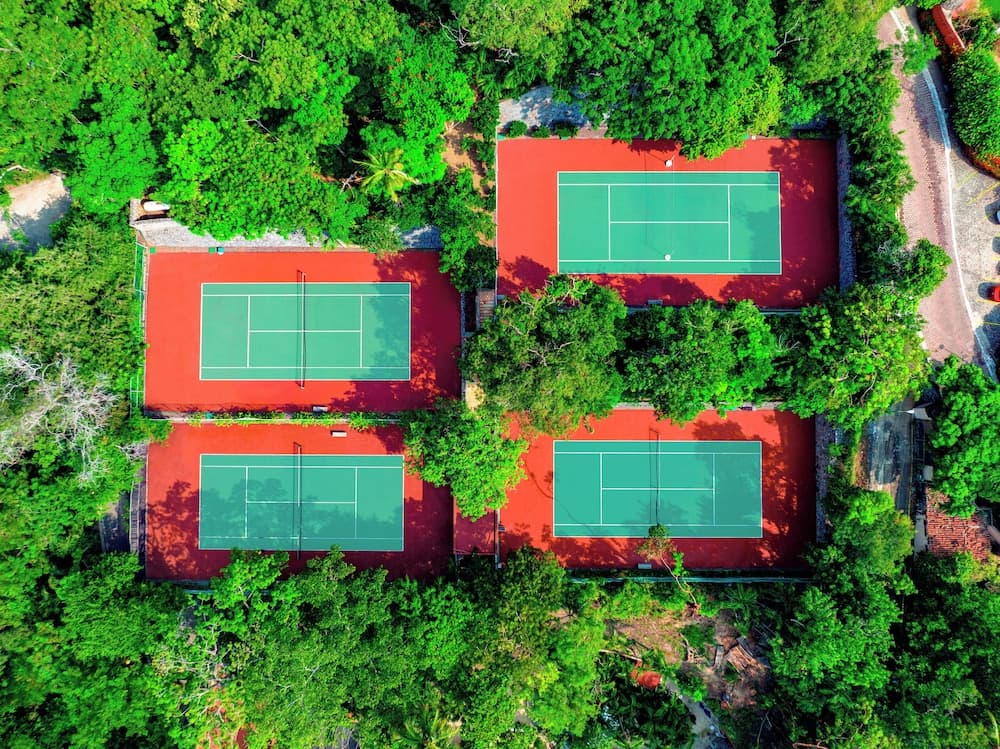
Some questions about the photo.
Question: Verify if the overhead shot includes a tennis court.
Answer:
Yes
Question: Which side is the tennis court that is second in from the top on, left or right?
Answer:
left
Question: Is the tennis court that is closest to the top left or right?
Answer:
right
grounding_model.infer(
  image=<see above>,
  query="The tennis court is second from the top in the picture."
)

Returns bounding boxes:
[145,251,461,412]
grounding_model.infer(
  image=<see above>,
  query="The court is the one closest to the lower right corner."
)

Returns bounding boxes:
[500,409,815,569]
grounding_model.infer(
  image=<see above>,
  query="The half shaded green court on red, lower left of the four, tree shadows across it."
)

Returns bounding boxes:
[146,423,452,583]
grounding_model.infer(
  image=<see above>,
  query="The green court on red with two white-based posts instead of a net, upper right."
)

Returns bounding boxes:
[497,139,839,307]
